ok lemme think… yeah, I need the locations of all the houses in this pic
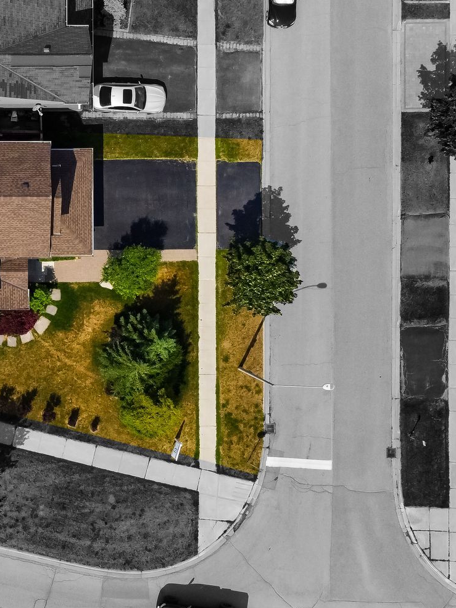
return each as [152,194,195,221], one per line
[0,140,96,312]
[0,0,94,118]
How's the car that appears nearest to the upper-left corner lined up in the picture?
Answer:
from side to side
